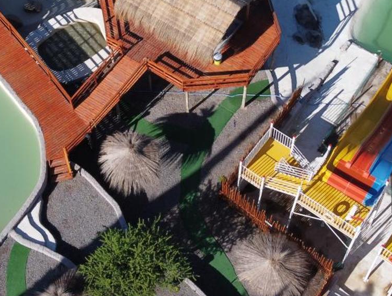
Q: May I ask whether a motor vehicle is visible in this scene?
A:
No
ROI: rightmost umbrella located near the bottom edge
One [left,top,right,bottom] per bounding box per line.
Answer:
[228,233,309,296]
